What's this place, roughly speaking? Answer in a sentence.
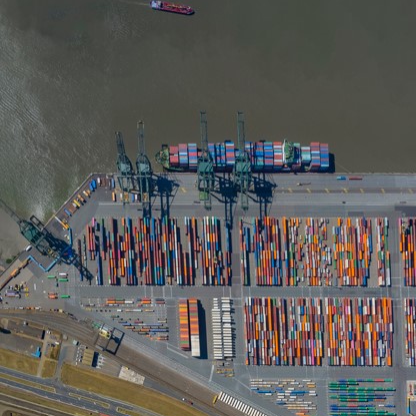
The area seen from above is a port.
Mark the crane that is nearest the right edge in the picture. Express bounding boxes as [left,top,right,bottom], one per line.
[231,117,258,209]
